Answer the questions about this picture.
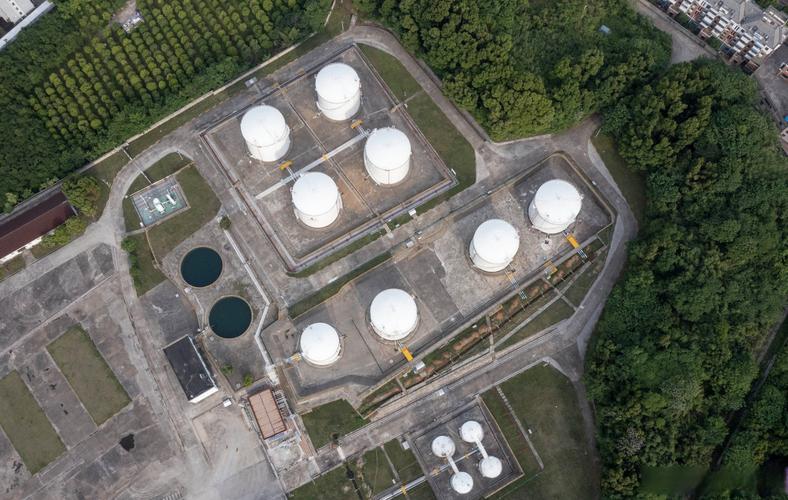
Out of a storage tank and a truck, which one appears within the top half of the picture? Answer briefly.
storage tank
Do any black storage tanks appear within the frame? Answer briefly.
No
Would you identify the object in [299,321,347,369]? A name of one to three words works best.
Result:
storage tank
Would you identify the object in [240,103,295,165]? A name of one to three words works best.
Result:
storage tank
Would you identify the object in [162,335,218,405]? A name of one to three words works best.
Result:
building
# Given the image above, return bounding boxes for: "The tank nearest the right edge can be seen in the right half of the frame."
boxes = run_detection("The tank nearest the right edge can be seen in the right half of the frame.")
[523,180,582,238]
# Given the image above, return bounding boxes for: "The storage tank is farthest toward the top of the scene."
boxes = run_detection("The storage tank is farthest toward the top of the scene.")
[316,63,365,122]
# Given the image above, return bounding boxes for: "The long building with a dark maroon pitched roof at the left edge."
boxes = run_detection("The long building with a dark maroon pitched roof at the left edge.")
[0,193,79,262]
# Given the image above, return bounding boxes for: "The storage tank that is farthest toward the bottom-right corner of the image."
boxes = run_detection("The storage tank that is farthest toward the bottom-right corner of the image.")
[474,451,504,482]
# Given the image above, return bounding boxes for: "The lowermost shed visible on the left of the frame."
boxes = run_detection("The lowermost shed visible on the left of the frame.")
[247,388,287,440]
